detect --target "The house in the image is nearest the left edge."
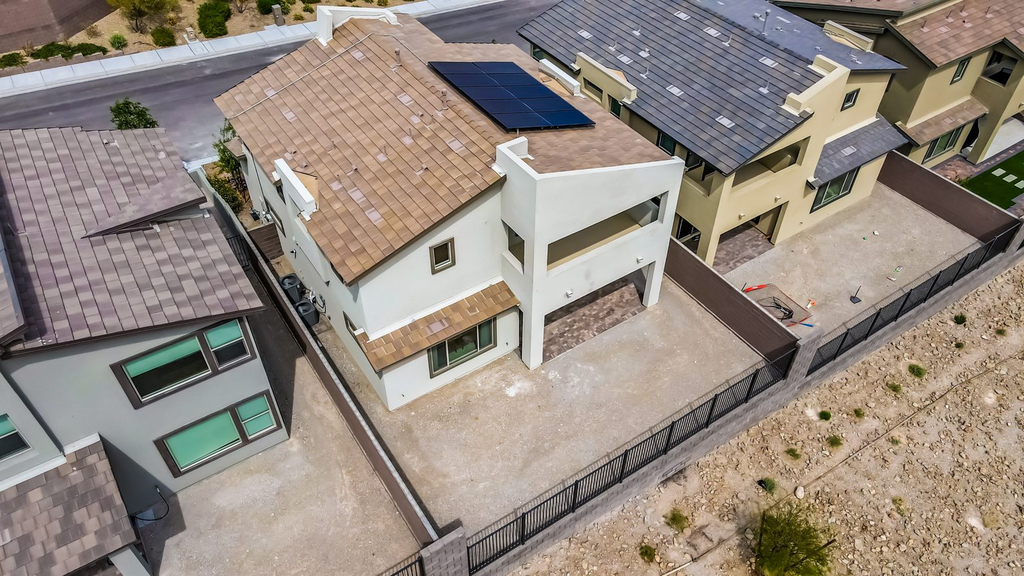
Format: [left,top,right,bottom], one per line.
[0,126,288,576]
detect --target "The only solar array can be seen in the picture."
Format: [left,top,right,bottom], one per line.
[427,62,595,136]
